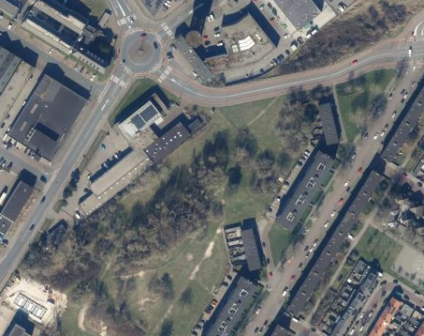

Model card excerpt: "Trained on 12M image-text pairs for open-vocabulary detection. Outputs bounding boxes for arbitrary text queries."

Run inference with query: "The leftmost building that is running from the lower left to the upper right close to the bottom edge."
[206,275,259,336]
